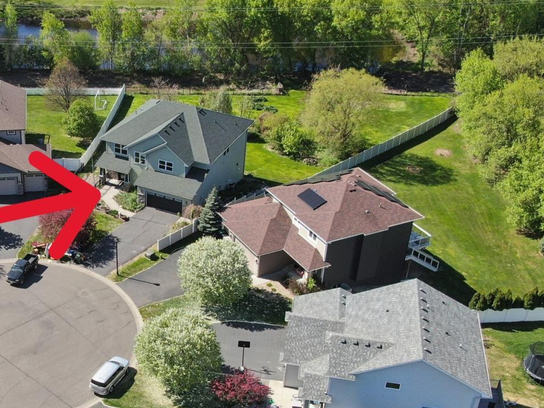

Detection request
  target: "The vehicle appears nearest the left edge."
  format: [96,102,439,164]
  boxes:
[5,248,44,284]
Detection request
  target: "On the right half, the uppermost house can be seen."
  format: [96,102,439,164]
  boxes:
[218,165,454,286]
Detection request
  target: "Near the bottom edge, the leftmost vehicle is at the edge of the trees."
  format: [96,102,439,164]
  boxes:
[86,356,138,398]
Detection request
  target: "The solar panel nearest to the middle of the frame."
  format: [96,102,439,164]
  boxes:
[297,188,326,210]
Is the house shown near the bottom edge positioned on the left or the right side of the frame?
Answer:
right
